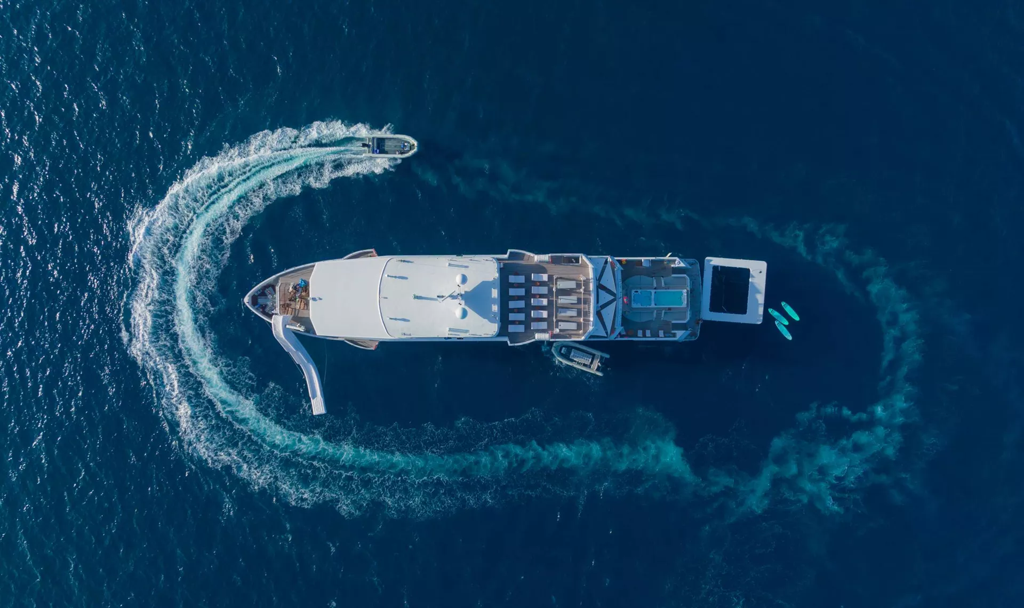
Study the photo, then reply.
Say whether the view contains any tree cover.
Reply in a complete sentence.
No, tree cover can't be seen anywhere here.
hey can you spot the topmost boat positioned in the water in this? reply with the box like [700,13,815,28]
[360,134,417,158]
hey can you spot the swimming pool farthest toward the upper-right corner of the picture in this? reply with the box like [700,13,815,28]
[701,257,767,324]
